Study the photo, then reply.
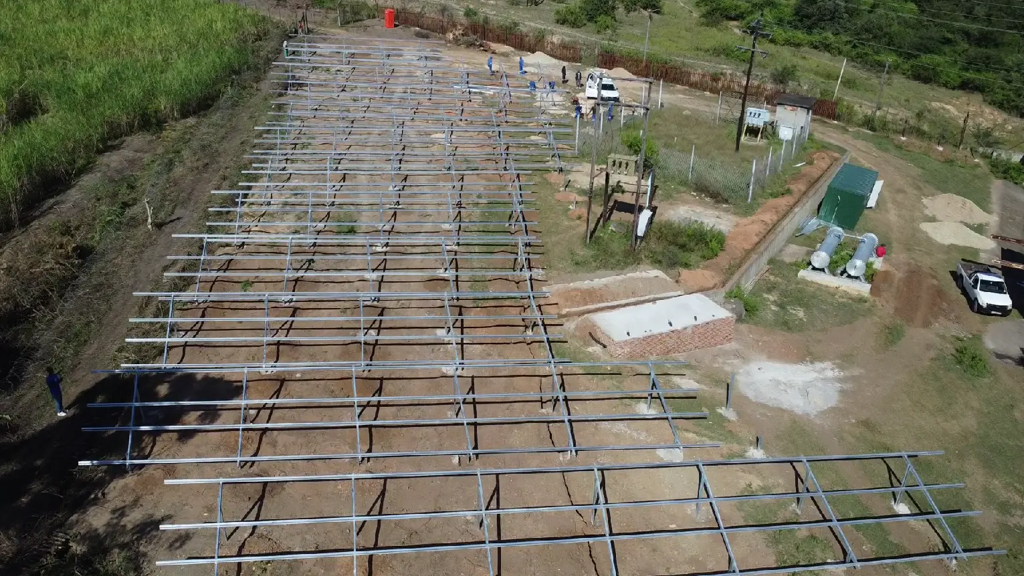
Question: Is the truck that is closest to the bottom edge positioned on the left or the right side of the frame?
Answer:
right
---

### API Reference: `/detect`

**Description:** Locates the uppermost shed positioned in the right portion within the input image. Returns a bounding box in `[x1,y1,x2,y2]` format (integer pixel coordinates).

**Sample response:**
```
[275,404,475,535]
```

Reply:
[777,101,818,143]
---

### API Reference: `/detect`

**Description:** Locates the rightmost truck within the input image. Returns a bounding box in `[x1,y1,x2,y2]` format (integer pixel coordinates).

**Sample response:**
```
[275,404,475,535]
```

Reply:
[958,267,1015,321]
